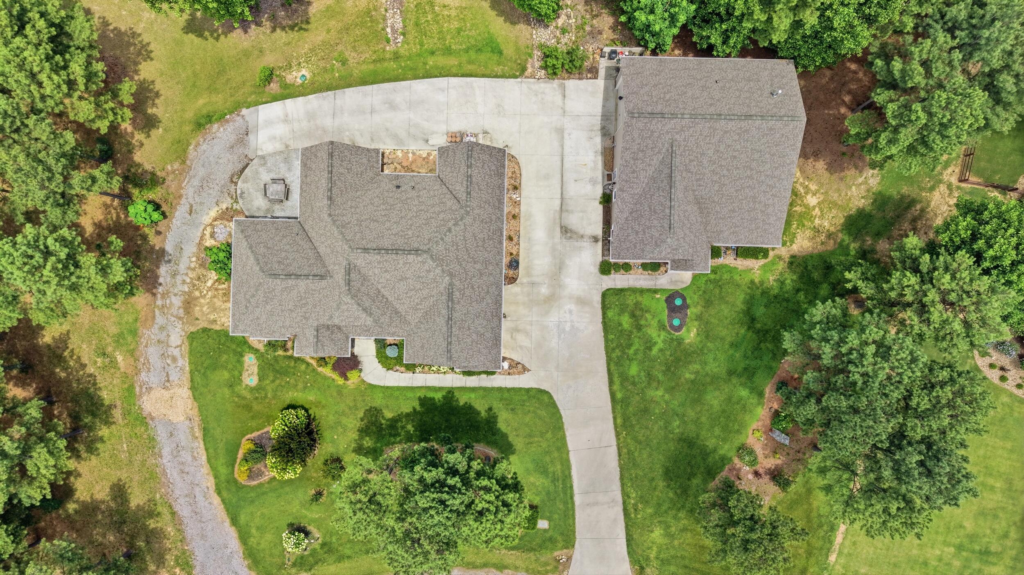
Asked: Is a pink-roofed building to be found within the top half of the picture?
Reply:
No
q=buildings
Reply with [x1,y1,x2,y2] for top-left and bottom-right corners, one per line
[602,56,806,273]
[230,141,507,372]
